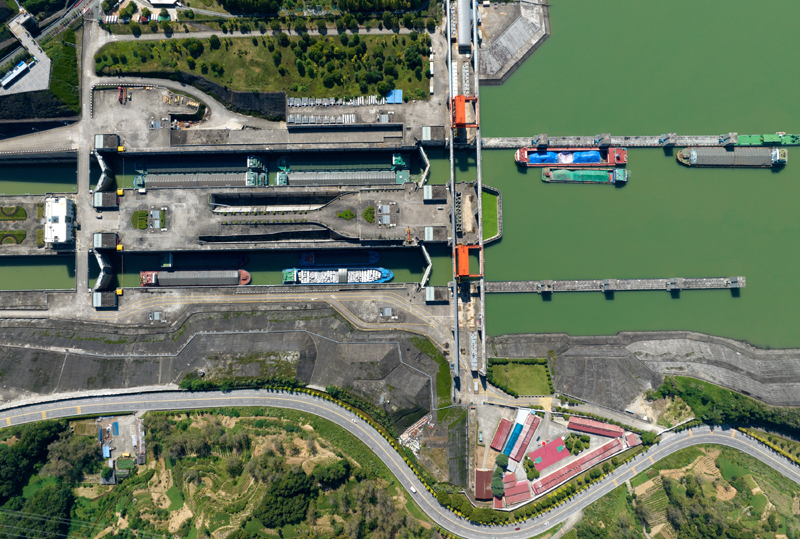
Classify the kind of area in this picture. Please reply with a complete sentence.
The area seen from above is a port.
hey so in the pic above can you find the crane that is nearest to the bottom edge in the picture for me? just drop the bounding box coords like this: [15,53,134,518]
[453,245,484,280]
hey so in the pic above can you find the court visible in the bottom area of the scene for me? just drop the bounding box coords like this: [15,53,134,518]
[530,437,570,471]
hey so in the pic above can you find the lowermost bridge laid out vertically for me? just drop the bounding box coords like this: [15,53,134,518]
[76,251,89,292]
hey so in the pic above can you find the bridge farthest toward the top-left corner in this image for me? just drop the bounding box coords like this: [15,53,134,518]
[77,149,90,195]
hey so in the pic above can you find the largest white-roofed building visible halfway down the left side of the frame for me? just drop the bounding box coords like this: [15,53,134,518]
[45,197,80,252]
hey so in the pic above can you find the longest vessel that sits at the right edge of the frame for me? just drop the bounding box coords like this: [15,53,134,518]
[677,147,790,167]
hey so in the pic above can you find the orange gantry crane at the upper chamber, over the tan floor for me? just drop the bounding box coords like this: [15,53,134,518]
[450,96,480,132]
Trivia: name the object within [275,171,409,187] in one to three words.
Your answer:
ship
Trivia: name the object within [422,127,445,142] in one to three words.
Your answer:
house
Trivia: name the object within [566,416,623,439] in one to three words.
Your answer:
building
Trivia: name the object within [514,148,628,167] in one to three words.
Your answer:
ship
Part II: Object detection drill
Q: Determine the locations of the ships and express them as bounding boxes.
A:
[159,252,248,266]
[139,270,252,286]
[514,148,628,167]
[541,167,630,183]
[275,171,409,187]
[133,172,268,188]
[282,268,394,284]
[677,147,790,167]
[277,155,409,170]
[134,155,269,171]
